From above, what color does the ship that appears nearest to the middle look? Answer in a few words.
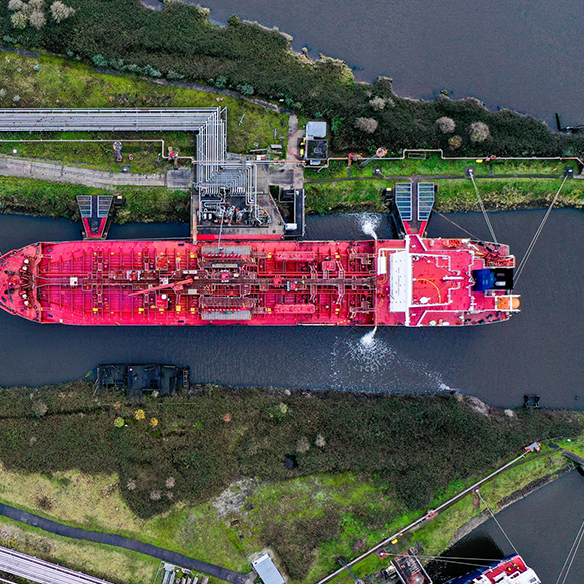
red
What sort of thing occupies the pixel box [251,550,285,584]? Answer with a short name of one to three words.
shed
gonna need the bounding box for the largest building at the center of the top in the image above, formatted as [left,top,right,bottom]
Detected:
[301,122,328,167]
